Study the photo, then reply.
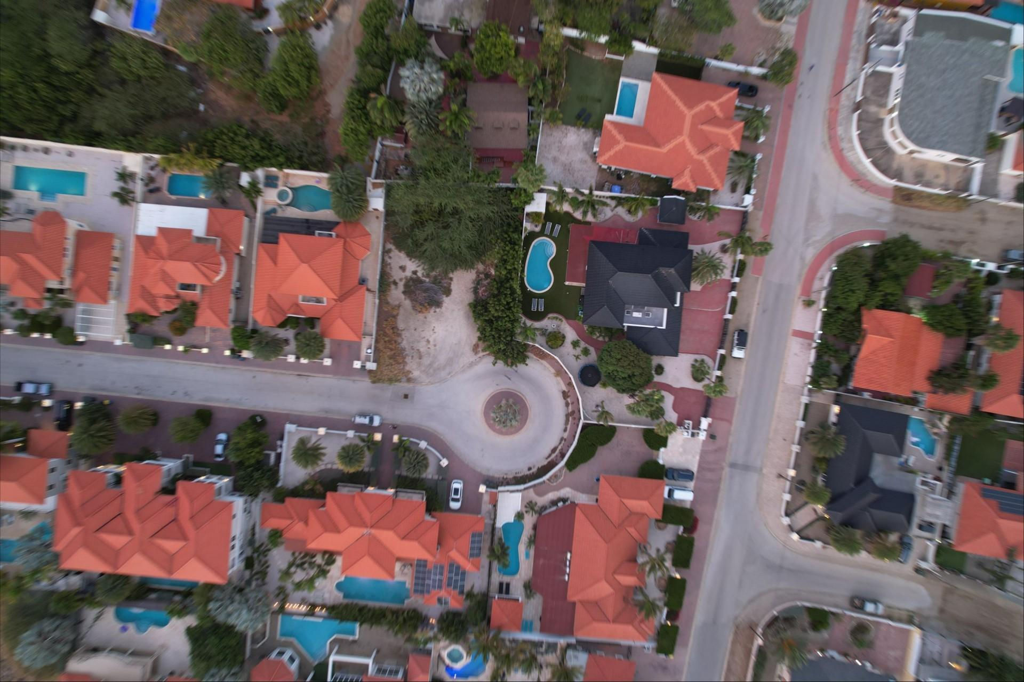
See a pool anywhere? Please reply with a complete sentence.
Yes, there is a pool in the image.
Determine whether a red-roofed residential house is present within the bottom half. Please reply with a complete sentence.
Yes, within the bottom half there is a red-roofed residential house.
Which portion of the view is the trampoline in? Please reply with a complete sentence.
You can find the trampoline in the center area of the picture.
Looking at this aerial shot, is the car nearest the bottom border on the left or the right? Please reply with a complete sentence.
It is on the right.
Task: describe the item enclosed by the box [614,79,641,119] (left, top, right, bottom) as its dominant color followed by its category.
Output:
blue swimming pool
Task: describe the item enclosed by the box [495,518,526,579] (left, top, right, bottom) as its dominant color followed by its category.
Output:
blue swimming pool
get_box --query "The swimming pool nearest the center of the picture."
[524,237,556,293]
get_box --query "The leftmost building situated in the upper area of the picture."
[0,212,96,310]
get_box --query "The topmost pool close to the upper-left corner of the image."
[130,0,158,35]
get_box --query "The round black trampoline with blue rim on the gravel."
[578,364,603,387]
